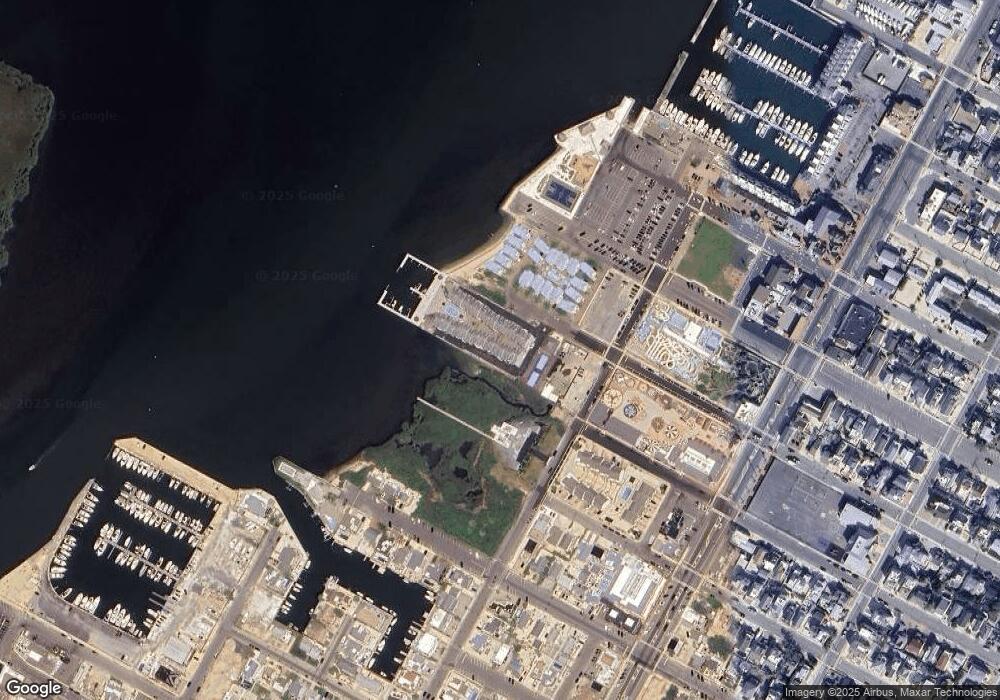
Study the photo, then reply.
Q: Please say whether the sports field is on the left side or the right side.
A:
right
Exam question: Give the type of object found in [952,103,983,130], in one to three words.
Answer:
house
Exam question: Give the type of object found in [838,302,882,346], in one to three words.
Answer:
building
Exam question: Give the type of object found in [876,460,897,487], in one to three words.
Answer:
house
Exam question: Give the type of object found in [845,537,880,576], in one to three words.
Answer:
building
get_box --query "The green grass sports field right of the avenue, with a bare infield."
[668,213,760,304]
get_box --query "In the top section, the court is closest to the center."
[539,173,582,211]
